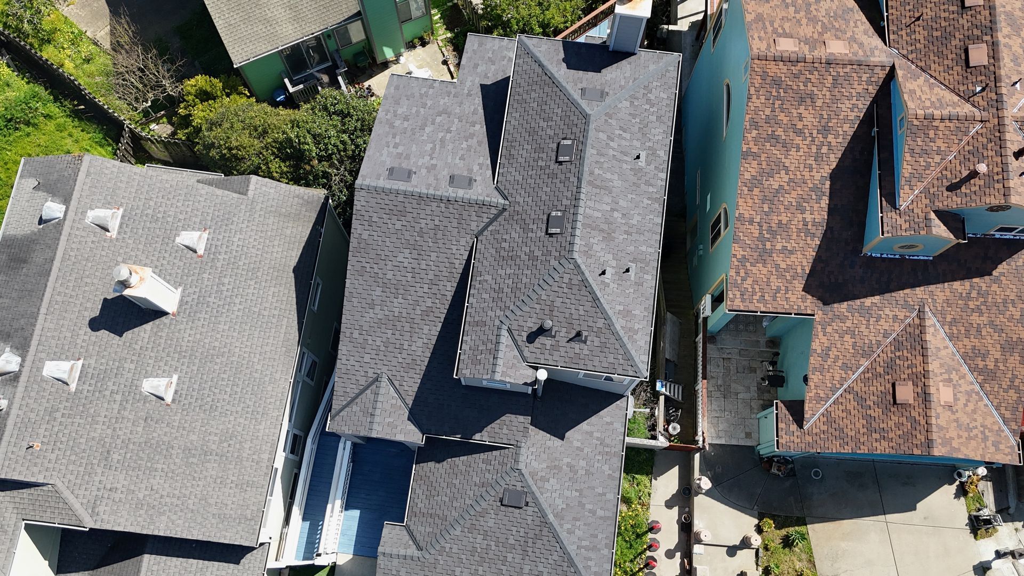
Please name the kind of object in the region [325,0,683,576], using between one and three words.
house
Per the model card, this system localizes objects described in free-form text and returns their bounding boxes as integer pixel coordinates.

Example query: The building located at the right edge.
[687,0,1024,464]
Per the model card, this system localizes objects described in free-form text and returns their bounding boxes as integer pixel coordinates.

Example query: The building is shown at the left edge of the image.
[0,155,343,576]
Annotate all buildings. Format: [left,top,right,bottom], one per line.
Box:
[205,0,434,99]
[325,0,683,576]
[687,0,1024,464]
[0,155,343,576]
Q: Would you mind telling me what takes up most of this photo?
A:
buildings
